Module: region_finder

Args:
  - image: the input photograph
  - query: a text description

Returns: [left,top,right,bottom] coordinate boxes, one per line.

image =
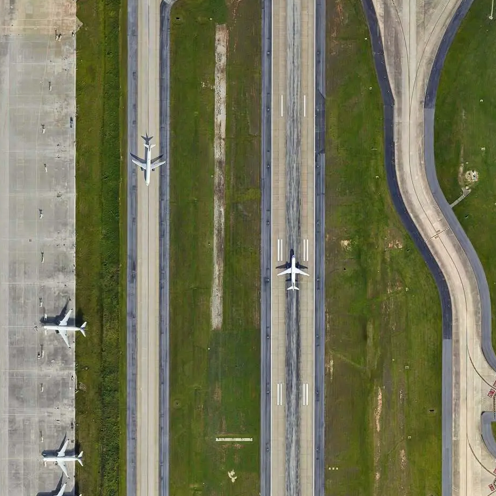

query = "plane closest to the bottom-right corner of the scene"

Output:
[277,255,310,290]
